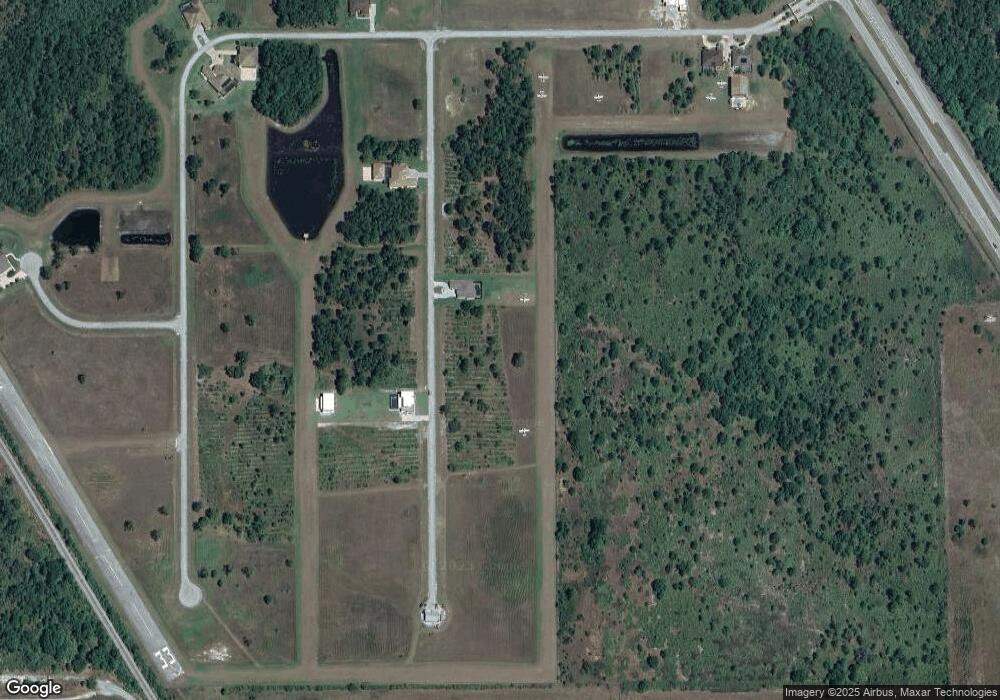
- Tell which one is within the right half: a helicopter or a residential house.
residential house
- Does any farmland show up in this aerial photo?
Yes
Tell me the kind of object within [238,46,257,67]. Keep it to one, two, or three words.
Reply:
hangar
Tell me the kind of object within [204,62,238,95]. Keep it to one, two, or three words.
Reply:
house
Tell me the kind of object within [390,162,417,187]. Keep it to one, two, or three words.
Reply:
house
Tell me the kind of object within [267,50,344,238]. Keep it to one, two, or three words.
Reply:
pond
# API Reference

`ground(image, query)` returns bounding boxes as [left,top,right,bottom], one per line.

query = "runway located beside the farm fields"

[0,368,185,681]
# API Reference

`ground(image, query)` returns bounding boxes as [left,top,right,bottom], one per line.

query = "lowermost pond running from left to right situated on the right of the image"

[562,134,699,151]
